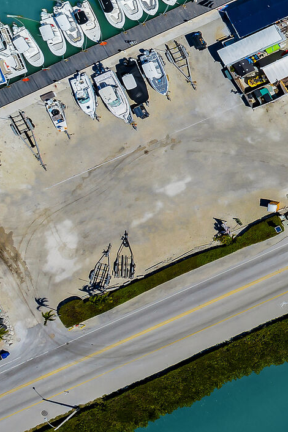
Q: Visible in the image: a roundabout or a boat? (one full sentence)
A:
The image shows a boat.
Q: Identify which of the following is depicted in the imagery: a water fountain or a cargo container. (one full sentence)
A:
The one in the frame is a cargo container.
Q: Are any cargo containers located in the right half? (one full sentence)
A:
Yes, a cargo container is visible in the right half.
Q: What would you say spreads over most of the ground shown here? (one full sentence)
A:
The bulk of the photo consists of paved ground.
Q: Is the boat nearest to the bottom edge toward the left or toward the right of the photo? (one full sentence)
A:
You can find the boat nearest to the bottom edge on the left side of the picture.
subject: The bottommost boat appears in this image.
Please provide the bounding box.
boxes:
[41,96,64,133]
